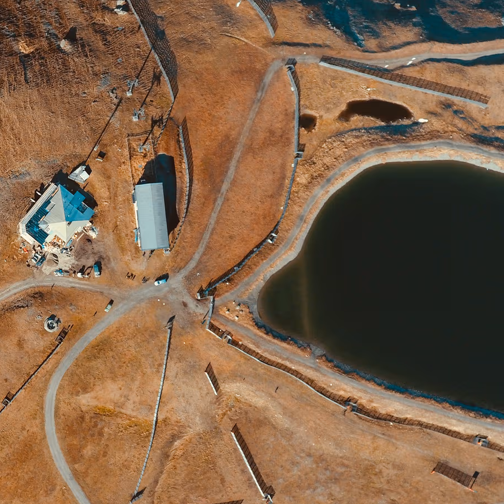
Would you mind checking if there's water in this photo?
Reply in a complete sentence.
Yes, there is water in the image.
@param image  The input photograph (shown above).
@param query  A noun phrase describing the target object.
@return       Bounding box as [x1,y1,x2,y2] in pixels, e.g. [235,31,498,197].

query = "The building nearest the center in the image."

[130,180,170,253]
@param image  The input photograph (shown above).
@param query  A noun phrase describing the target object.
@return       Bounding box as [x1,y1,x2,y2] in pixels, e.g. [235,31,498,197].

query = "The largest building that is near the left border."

[19,183,94,247]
